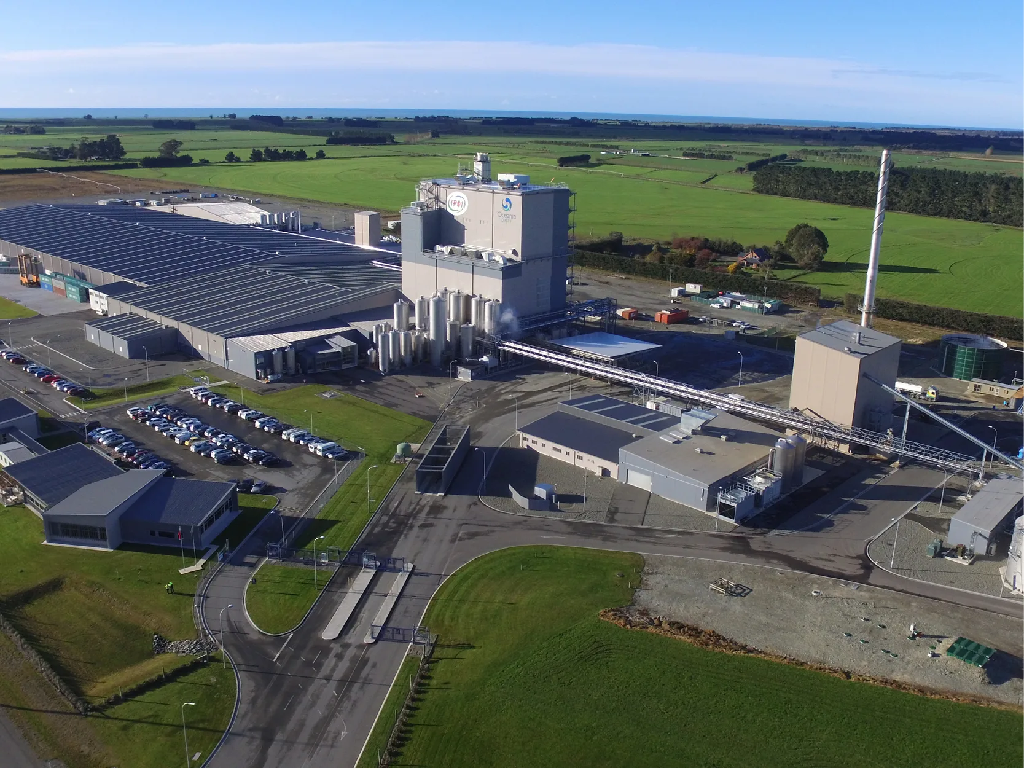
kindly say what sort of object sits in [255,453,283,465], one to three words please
vehicle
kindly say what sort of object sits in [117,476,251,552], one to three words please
building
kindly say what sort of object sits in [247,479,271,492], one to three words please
vehicle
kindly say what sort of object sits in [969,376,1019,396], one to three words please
building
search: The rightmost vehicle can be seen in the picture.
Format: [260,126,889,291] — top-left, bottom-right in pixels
[899,382,950,400]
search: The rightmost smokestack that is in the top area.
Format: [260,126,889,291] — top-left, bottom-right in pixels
[861,149,898,331]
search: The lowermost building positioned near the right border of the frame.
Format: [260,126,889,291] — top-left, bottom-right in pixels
[944,470,1024,556]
